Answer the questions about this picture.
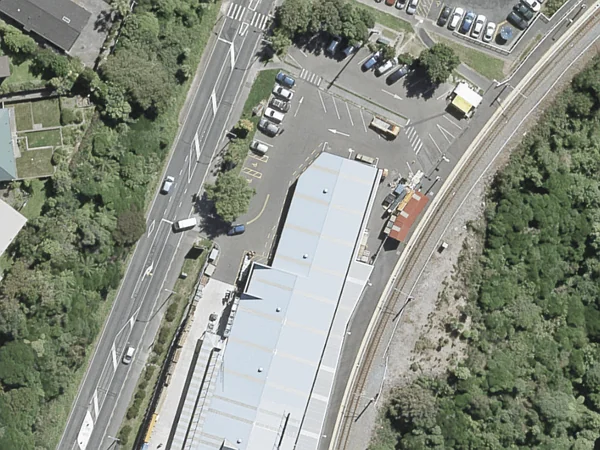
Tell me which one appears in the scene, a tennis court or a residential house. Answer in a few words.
residential house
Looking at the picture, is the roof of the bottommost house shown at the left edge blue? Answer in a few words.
No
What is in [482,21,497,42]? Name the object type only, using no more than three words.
car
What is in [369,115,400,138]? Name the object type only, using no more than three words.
truck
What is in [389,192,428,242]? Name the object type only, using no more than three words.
building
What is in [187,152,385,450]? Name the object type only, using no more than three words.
building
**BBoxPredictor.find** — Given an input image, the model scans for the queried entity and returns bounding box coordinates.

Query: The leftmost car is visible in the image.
[122,343,136,366]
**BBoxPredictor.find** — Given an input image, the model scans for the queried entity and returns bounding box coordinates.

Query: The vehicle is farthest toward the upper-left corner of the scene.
[160,173,176,195]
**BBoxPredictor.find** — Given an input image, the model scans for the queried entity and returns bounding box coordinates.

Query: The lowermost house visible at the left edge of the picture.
[0,198,28,253]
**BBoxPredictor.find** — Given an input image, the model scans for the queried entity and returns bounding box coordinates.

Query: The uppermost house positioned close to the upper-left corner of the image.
[0,0,91,52]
